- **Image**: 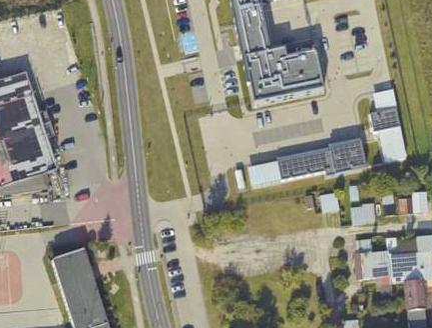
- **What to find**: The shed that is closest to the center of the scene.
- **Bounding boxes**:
[249,161,281,189]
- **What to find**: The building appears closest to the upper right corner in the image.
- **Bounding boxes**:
[372,88,396,110]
